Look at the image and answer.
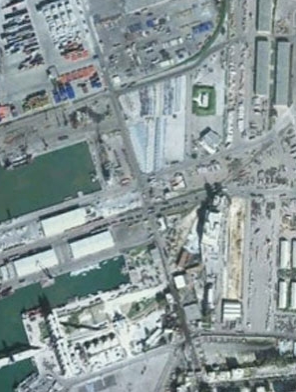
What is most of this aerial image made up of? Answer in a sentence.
Most of the picture is covered by paved ground.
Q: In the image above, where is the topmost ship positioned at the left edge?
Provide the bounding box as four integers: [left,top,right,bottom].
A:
[4,158,33,172]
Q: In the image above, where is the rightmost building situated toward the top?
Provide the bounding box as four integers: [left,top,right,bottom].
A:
[277,42,294,105]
